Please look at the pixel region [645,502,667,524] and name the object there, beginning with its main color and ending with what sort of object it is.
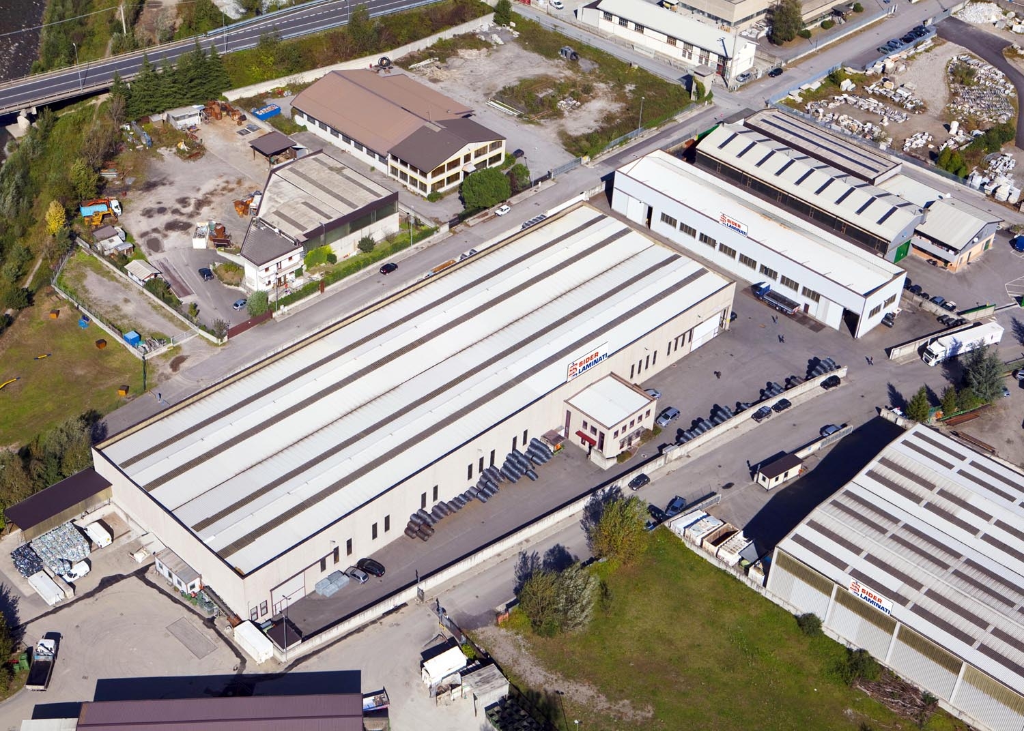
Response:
black car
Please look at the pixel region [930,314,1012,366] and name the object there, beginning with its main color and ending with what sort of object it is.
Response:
white truck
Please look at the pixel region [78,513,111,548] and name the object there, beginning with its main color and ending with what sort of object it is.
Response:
white van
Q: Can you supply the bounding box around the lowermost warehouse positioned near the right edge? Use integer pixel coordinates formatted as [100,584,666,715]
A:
[767,420,1024,731]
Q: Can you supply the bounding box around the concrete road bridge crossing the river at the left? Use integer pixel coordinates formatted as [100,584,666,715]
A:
[0,37,184,142]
